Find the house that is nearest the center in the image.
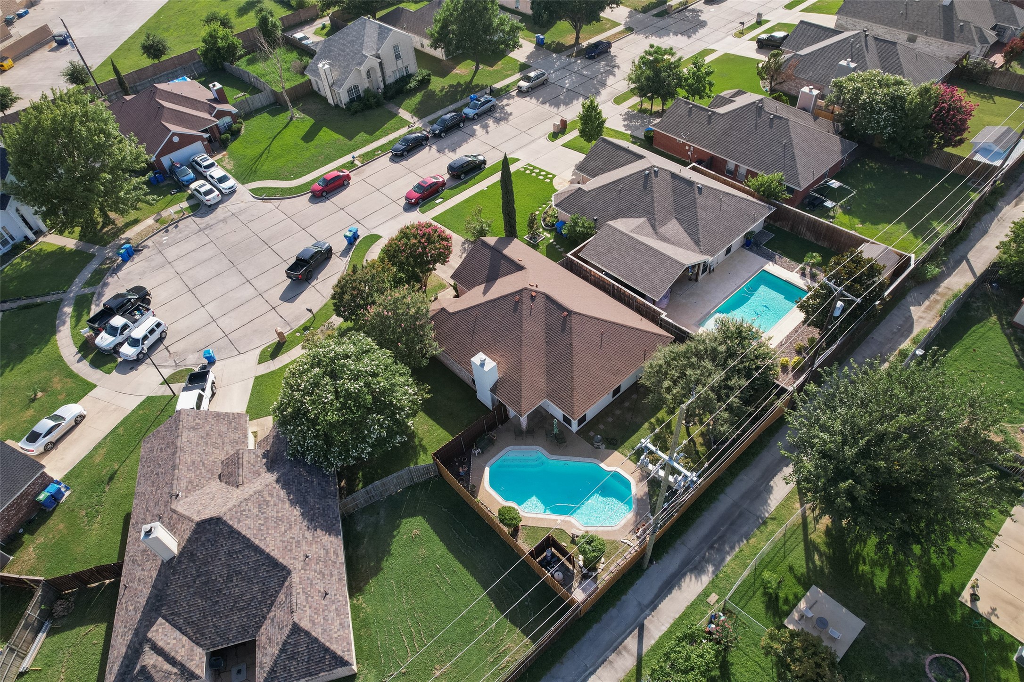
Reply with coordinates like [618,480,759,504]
[414,236,668,434]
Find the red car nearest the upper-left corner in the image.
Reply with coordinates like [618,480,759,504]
[308,168,353,197]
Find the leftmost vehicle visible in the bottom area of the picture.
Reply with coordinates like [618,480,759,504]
[15,401,89,459]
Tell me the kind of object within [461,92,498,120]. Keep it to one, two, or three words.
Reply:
car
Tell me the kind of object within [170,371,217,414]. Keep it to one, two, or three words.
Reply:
truck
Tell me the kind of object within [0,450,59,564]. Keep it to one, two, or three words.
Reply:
house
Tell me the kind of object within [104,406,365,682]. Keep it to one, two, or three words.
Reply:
house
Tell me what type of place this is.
residential area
